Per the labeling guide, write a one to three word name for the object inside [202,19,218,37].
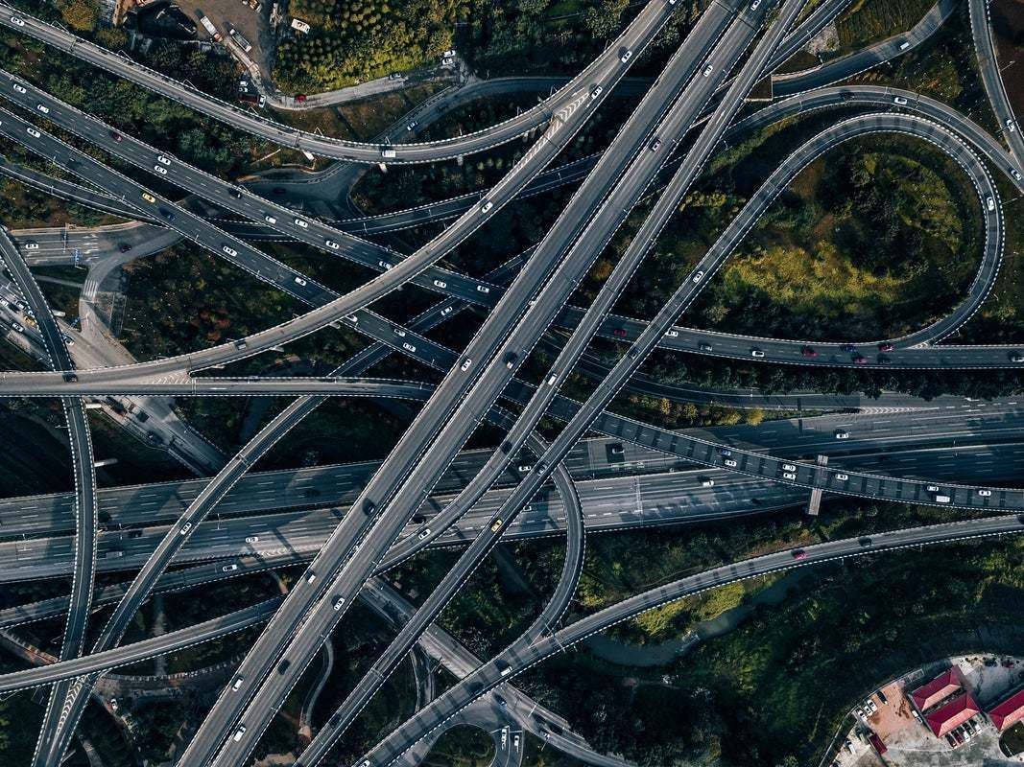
vehicle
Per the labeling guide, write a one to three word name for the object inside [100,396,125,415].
vehicle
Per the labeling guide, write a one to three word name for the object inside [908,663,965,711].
building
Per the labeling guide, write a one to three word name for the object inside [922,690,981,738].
building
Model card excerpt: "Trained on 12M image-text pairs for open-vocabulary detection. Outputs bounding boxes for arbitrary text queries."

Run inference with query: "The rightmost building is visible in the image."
[984,685,1024,732]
